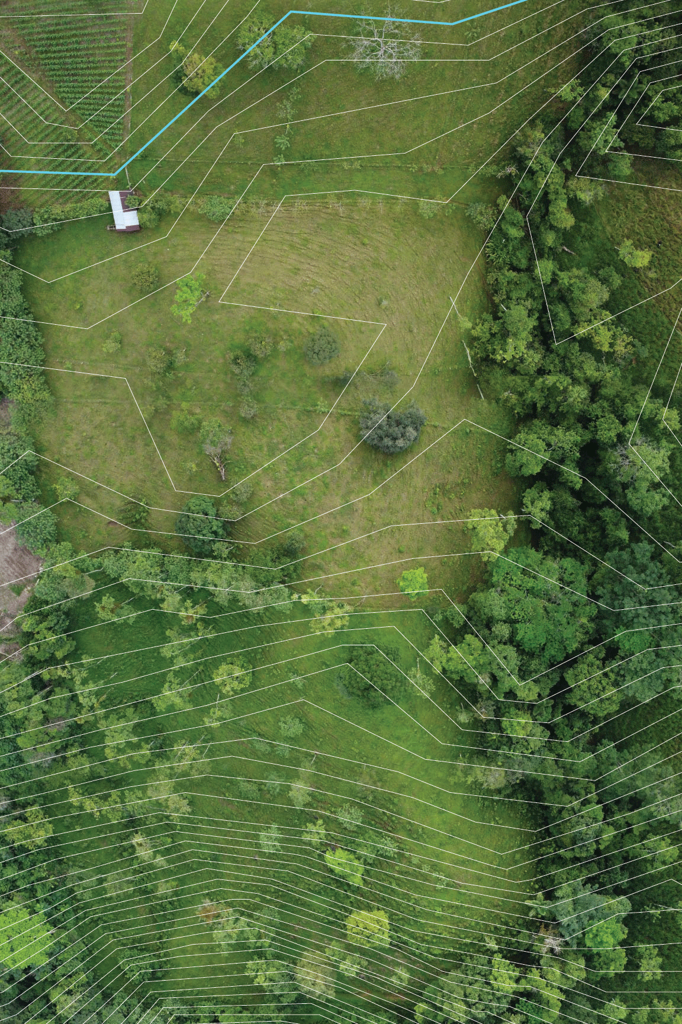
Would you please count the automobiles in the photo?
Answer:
none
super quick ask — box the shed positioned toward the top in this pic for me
[108,189,140,232]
